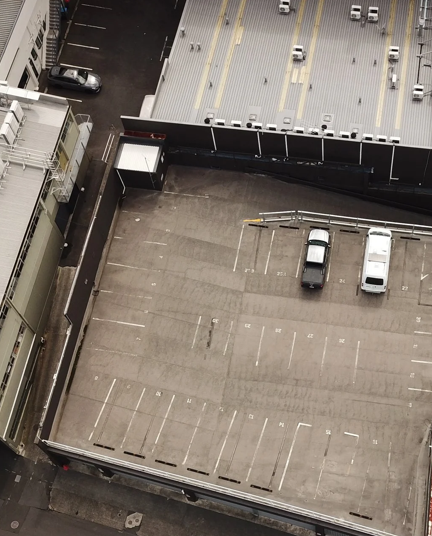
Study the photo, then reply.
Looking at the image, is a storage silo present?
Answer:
No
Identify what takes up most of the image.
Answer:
paved ground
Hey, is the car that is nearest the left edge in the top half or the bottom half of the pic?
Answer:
top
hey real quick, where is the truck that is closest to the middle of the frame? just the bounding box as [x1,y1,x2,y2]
[301,229,332,291]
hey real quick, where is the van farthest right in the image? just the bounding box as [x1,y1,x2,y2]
[362,228,395,295]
